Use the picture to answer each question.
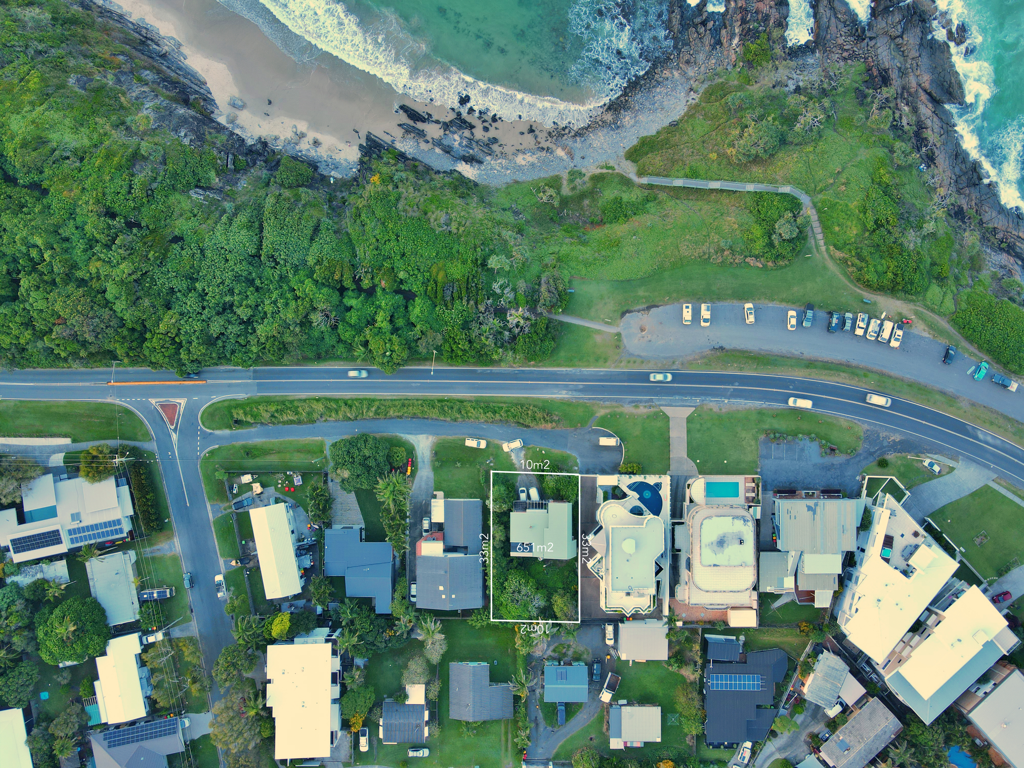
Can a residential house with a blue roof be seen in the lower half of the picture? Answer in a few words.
Yes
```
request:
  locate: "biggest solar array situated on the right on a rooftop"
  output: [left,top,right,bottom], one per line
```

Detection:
[710,674,760,690]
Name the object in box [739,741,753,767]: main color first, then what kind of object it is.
white vehicle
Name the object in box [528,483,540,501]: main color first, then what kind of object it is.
white vehicle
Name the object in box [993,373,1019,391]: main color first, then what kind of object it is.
blue vehicle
